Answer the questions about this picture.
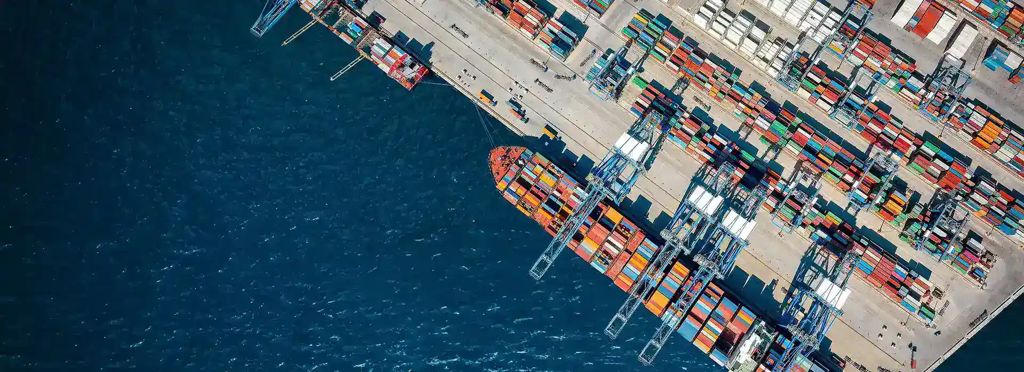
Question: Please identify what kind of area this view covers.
port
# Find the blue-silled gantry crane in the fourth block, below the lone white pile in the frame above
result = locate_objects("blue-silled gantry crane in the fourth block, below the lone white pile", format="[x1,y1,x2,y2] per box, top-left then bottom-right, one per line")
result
[915,62,978,125]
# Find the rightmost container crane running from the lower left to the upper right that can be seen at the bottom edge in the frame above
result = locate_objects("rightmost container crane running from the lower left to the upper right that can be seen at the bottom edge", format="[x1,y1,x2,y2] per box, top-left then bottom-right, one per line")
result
[768,252,865,372]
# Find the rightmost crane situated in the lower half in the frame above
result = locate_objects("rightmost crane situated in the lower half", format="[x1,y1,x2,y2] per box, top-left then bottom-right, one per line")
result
[911,202,975,261]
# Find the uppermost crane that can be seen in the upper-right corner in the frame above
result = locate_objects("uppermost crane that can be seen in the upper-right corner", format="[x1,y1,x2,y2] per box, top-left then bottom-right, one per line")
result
[822,0,880,61]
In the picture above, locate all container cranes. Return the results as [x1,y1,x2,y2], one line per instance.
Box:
[768,176,824,234]
[827,69,886,130]
[822,0,880,61]
[250,0,290,41]
[601,163,738,342]
[911,202,975,261]
[775,33,830,94]
[634,186,773,368]
[527,110,663,283]
[915,62,978,125]
[589,44,638,103]
[842,152,901,212]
